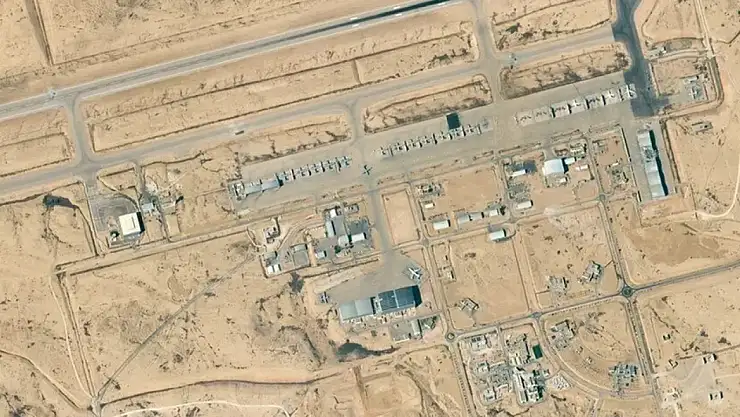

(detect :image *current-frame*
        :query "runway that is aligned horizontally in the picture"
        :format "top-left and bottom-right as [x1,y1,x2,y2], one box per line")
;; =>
[0,0,472,119]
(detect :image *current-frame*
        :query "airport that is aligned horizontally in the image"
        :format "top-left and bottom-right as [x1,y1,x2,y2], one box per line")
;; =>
[0,0,708,309]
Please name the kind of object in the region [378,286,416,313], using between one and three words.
hangar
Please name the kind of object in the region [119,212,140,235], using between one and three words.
building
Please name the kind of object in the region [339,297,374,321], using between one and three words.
hangar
